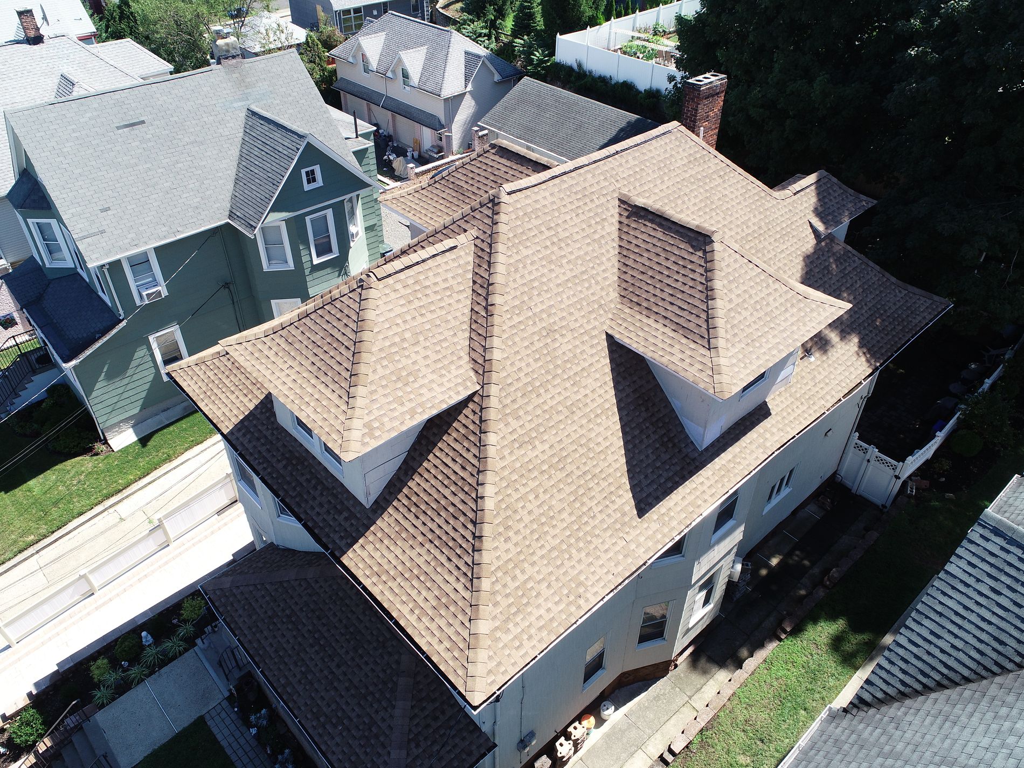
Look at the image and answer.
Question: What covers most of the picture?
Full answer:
The scene is dominated by buildings.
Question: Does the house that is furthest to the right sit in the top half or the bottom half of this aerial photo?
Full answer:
Seen from above, the house that is furthest to the right lies in the bottom half of the view.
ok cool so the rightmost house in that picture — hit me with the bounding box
[792,480,1024,768]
